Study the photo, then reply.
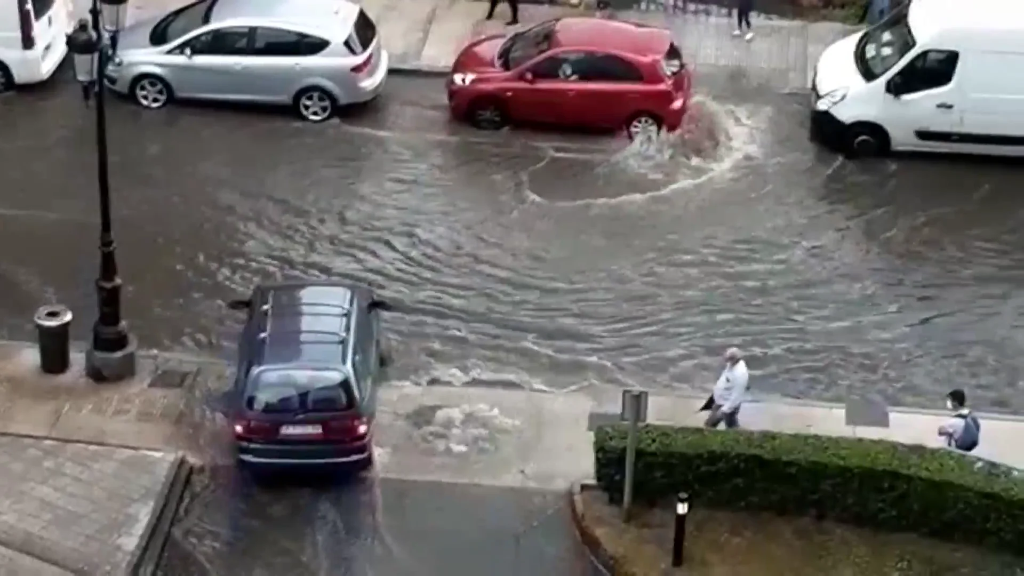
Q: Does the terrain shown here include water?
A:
Yes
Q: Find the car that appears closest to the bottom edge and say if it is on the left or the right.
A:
left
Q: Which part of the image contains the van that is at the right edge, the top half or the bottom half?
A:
top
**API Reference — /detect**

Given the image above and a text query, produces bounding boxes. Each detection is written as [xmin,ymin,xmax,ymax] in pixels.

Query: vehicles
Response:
[229,279,397,469]
[817,0,1024,156]
[0,0,72,89]
[452,22,687,143]
[108,0,386,120]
